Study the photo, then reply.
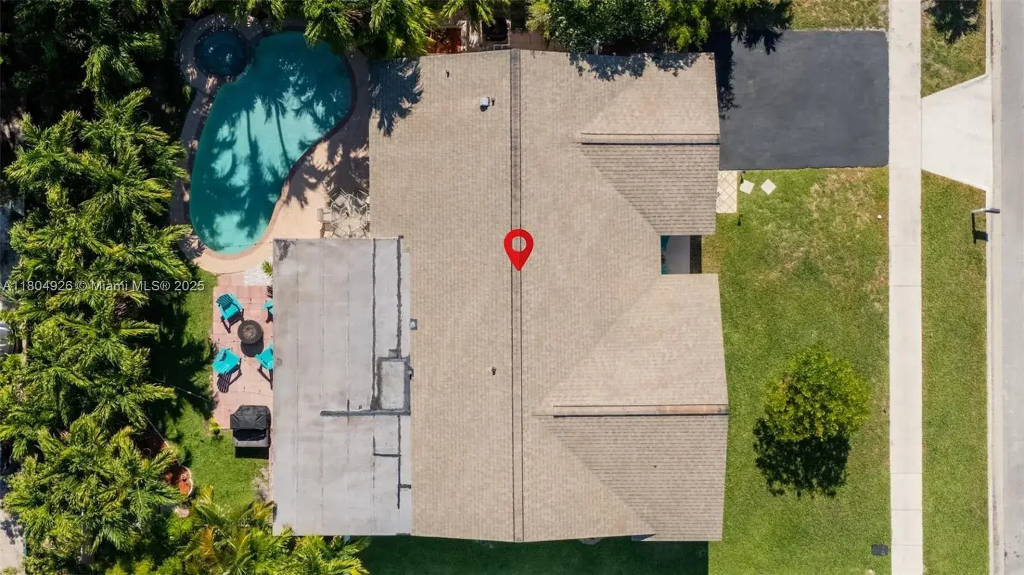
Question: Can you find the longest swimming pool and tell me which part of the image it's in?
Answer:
top left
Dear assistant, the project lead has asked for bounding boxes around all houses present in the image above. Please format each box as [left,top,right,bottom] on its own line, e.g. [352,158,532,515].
[272,49,728,544]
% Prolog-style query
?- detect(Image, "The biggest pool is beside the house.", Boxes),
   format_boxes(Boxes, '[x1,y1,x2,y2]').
[182,24,360,260]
